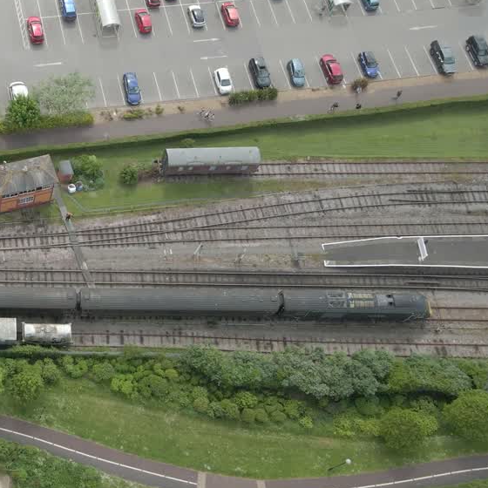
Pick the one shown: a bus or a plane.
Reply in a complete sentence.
It is a bus that can be seen here.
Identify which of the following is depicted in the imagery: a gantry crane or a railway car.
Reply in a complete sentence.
Of the two, only a railway car appears.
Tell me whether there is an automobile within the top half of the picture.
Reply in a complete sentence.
Yes, an automobile shows up within the top half of the picture.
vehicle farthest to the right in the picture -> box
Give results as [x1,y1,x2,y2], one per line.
[462,36,488,68]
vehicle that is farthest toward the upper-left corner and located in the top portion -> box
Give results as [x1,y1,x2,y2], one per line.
[27,19,44,45]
